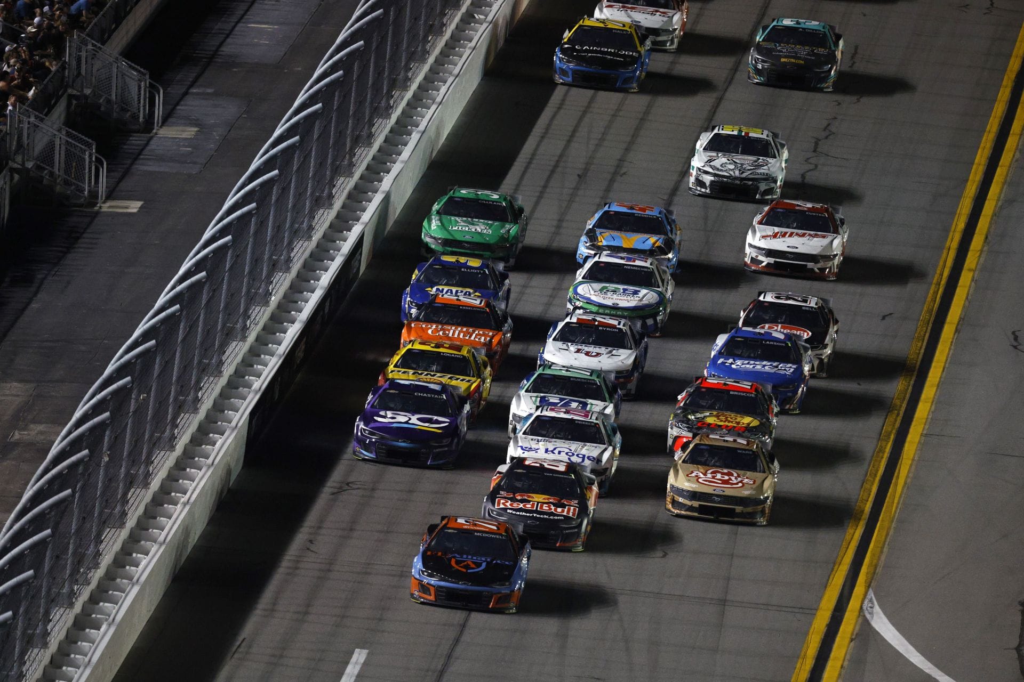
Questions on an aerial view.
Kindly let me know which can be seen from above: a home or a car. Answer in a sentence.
I can see a car in this picture.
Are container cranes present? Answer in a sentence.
No, I can see no container crane in this picture.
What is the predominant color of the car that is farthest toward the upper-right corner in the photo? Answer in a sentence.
The car that is farthest toward the upper-right corner is black.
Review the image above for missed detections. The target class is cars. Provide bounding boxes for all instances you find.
[507,405,622,498]
[482,458,600,553]
[664,432,779,526]
[381,338,492,428]
[705,329,813,414]
[420,187,527,270]
[738,291,840,378]
[667,376,779,456]
[576,201,682,281]
[402,257,512,330]
[402,296,513,380]
[538,315,647,400]
[745,201,847,280]
[353,379,471,471]
[749,18,844,91]
[412,516,531,614]
[689,126,789,203]
[566,252,673,337]
[553,17,651,92]
[508,363,622,443]
[594,0,688,50]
